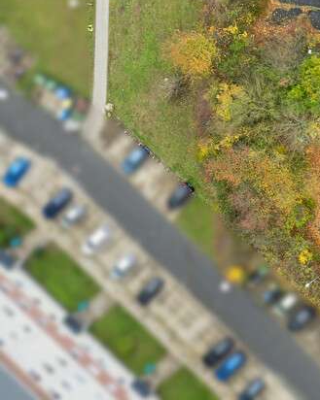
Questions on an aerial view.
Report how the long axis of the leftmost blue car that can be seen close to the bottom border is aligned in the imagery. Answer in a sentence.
In this picture, the leftmost blue car that can be seen close to the bottom border lies diagonally.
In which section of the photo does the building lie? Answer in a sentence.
The building appears toward the bottom left of the photo.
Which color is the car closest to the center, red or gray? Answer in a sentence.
The car closest to the center looks gray in the image.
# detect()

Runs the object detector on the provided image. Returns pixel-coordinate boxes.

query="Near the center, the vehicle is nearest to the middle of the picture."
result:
[163,178,199,213]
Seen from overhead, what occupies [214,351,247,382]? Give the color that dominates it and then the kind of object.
blue car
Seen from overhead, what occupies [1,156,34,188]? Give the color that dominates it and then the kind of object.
blue car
